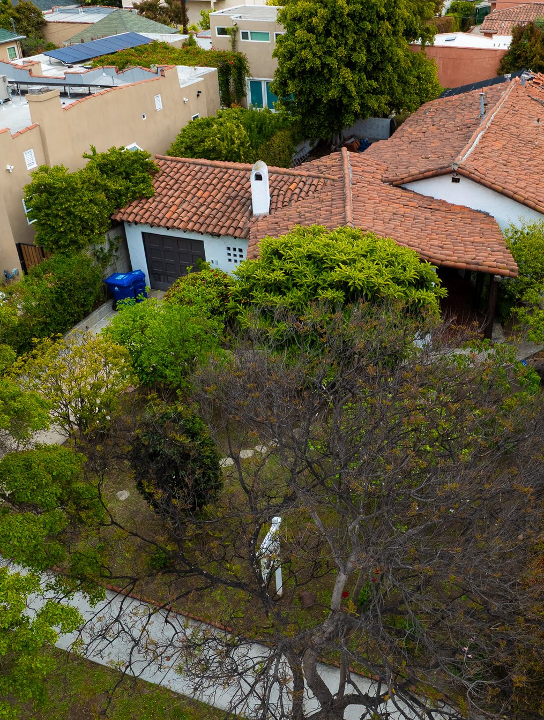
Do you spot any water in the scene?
No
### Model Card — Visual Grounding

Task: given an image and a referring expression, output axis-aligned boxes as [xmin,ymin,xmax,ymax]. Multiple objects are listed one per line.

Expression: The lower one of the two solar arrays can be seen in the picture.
[12,80,116,100]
